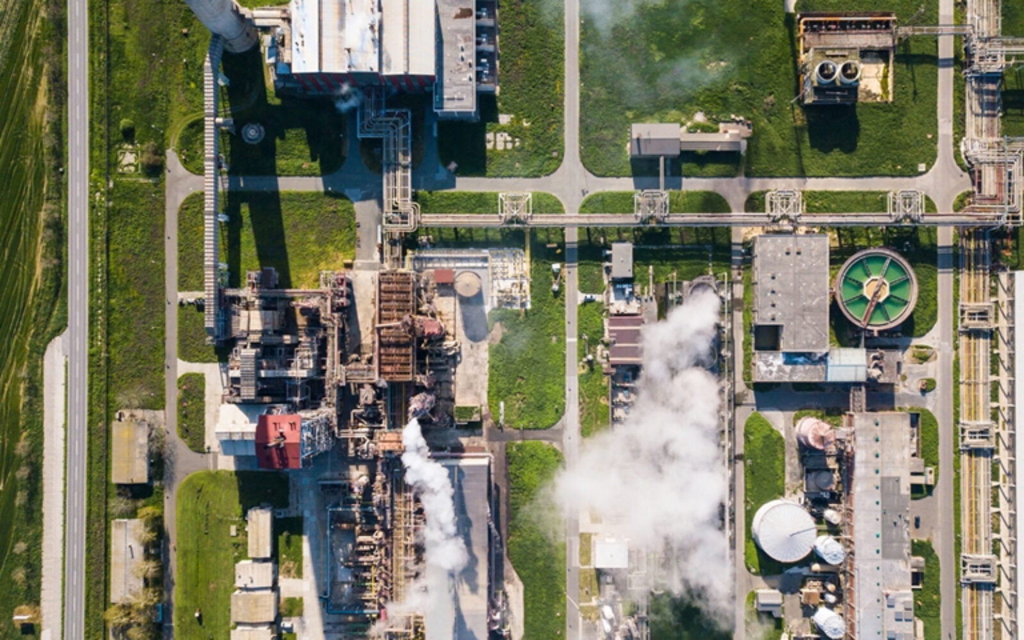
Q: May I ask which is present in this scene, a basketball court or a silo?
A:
silo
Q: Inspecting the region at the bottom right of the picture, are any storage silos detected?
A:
Yes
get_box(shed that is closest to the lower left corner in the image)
[11,604,44,625]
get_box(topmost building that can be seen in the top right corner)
[795,13,897,98]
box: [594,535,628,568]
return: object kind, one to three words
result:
building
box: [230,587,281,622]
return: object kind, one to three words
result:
shed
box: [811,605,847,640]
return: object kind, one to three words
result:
silo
